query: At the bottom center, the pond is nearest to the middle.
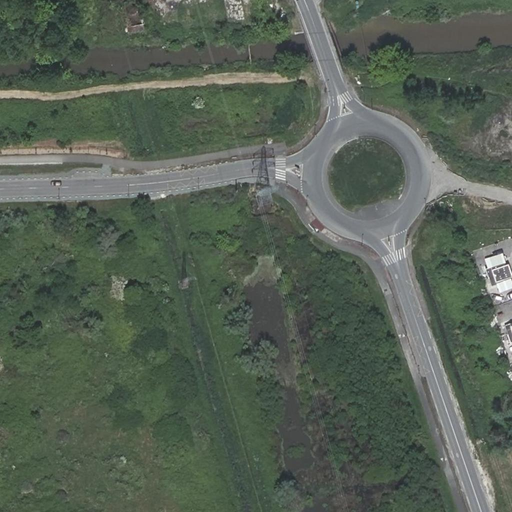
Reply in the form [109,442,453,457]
[246,281,313,472]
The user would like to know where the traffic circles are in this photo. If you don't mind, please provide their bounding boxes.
[302,110,430,244]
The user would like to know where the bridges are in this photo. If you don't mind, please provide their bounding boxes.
[302,20,338,66]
